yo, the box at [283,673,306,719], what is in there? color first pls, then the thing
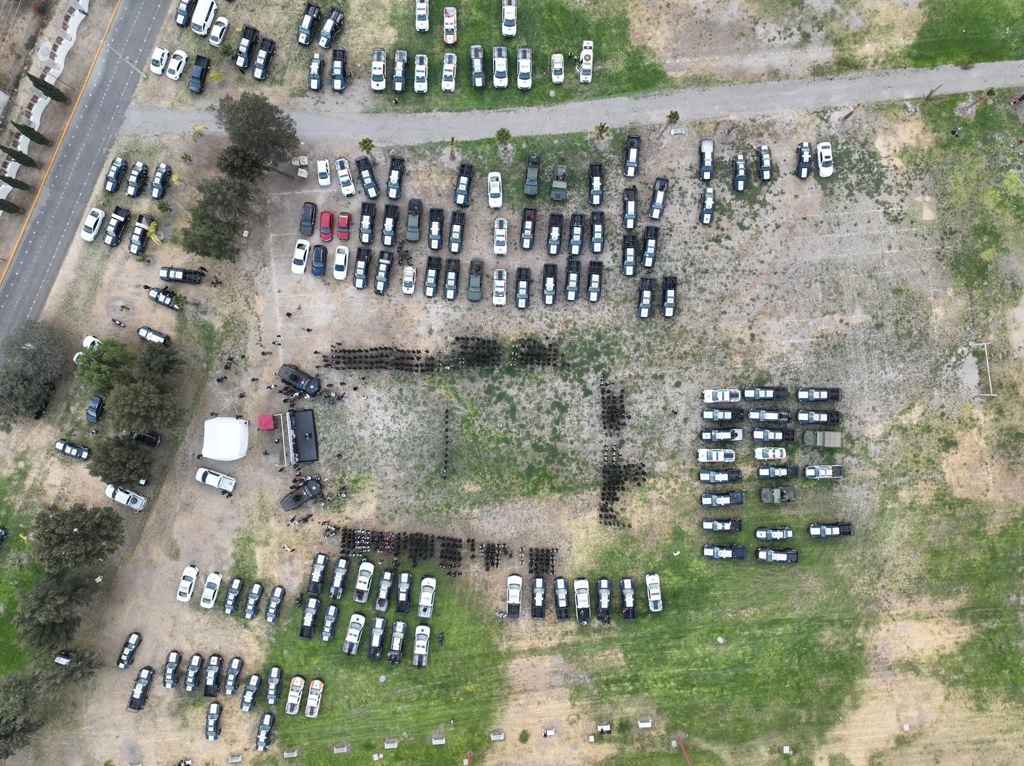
white truck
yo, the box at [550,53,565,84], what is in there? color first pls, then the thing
white car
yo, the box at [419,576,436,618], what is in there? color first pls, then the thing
white vehicle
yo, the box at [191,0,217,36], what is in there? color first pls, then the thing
white vehicle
